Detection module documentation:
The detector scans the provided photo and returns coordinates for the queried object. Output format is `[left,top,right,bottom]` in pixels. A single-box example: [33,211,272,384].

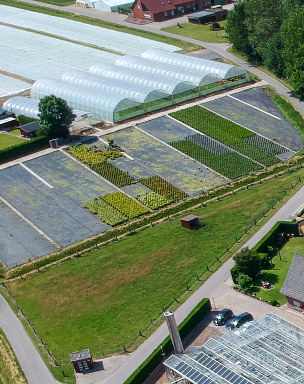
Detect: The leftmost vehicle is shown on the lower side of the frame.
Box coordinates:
[212,308,234,325]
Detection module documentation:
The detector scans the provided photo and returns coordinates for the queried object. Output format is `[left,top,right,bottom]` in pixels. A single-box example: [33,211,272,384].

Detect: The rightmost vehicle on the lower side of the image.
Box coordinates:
[227,312,250,327]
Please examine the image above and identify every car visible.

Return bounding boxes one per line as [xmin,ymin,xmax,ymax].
[227,312,250,327]
[212,308,234,325]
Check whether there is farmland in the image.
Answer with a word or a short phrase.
Yes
